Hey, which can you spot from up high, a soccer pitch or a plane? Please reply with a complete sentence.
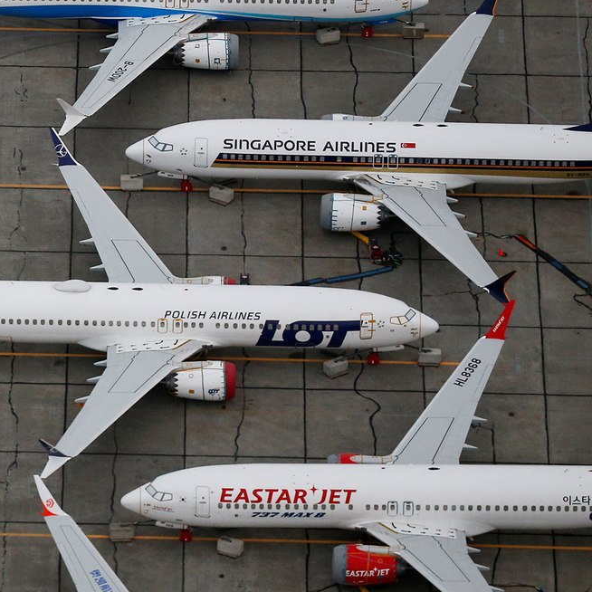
This aerial view contains a plane.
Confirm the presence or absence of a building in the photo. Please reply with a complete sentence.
No, this view has no building in it.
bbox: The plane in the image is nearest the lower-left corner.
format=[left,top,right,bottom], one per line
[32,474,123,592]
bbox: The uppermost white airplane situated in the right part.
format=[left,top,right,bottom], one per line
[127,0,592,306]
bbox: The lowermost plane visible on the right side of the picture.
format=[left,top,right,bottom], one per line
[120,299,592,592]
